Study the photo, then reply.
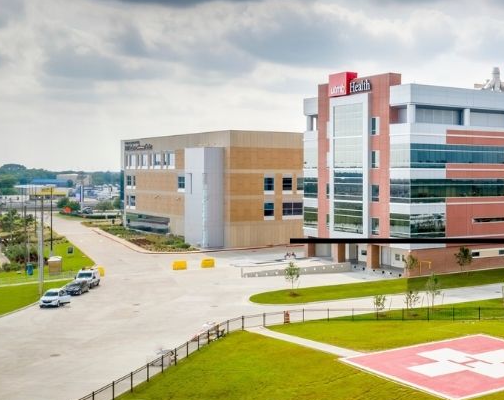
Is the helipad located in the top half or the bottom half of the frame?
bottom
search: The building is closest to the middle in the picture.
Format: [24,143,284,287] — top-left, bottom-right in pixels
[118,130,307,249]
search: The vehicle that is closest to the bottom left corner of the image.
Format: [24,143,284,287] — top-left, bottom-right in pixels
[42,290,74,306]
